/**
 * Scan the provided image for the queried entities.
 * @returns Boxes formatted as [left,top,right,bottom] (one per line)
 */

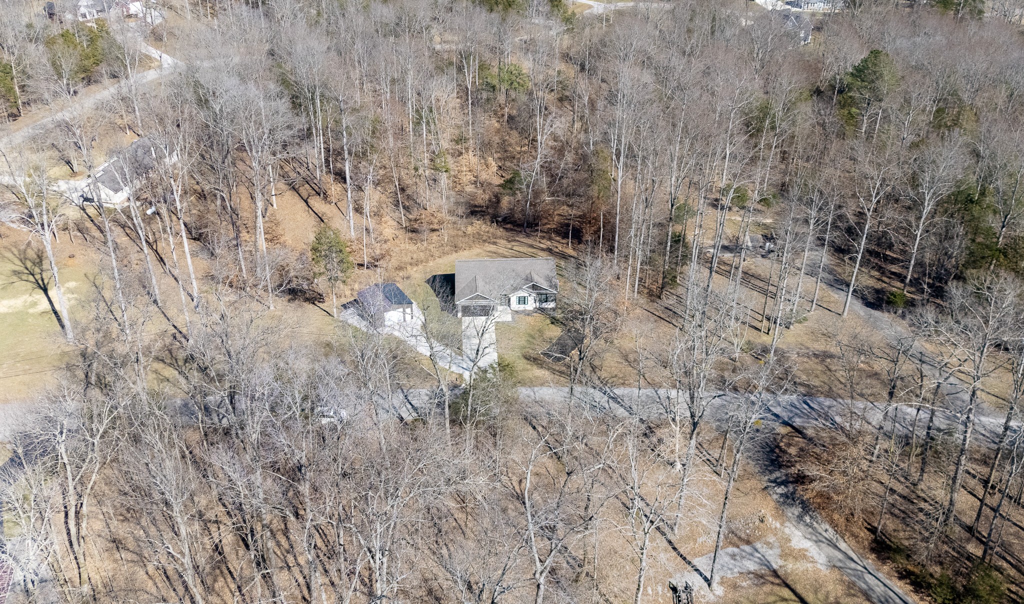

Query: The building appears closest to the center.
[457,258,562,318]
